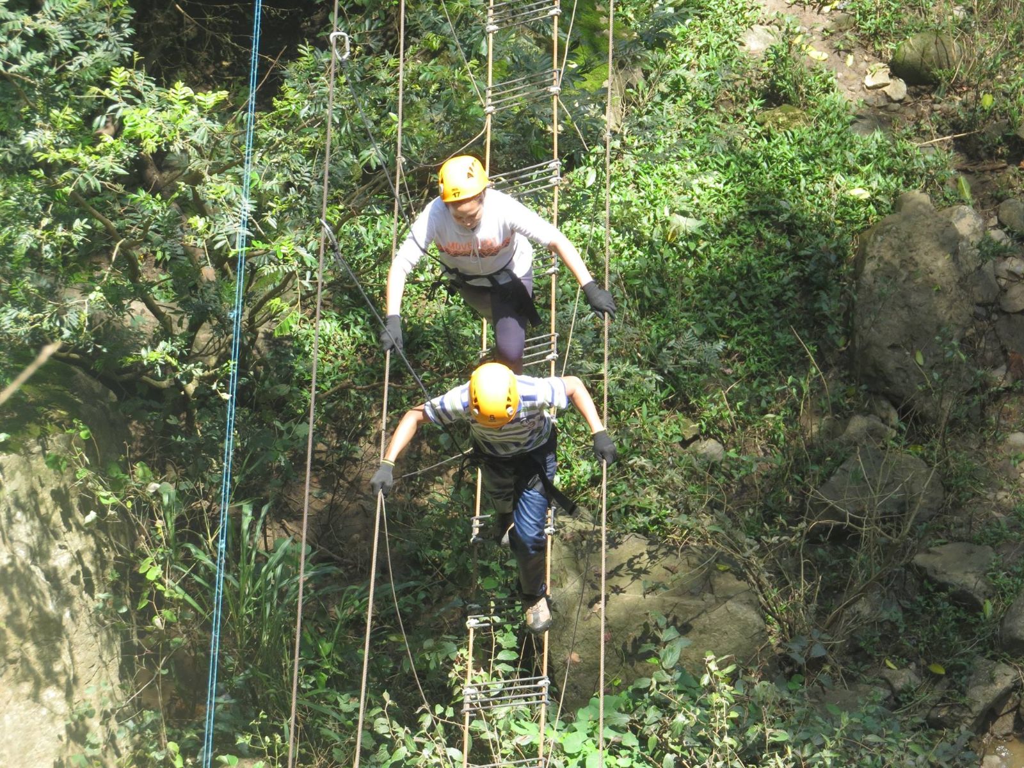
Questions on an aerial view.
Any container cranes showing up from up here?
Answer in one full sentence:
No, the scene contains no container crane.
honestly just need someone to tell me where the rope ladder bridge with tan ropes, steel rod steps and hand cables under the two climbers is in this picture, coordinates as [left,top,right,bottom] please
[353,0,614,768]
